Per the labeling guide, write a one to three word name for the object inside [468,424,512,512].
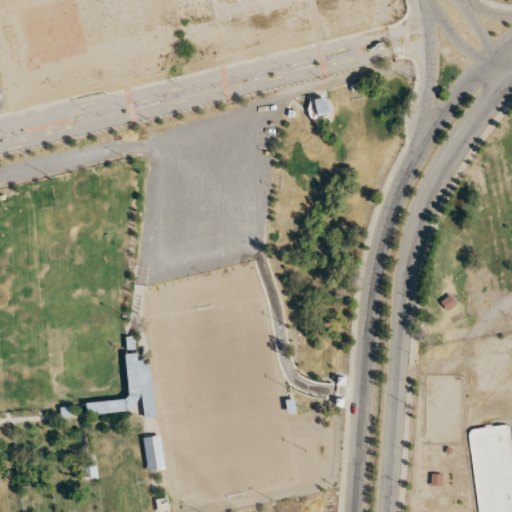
building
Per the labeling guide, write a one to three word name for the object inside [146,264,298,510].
sports field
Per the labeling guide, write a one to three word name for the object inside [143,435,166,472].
building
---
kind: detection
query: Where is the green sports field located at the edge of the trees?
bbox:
[0,160,131,414]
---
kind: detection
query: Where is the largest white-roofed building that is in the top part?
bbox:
[310,97,334,122]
